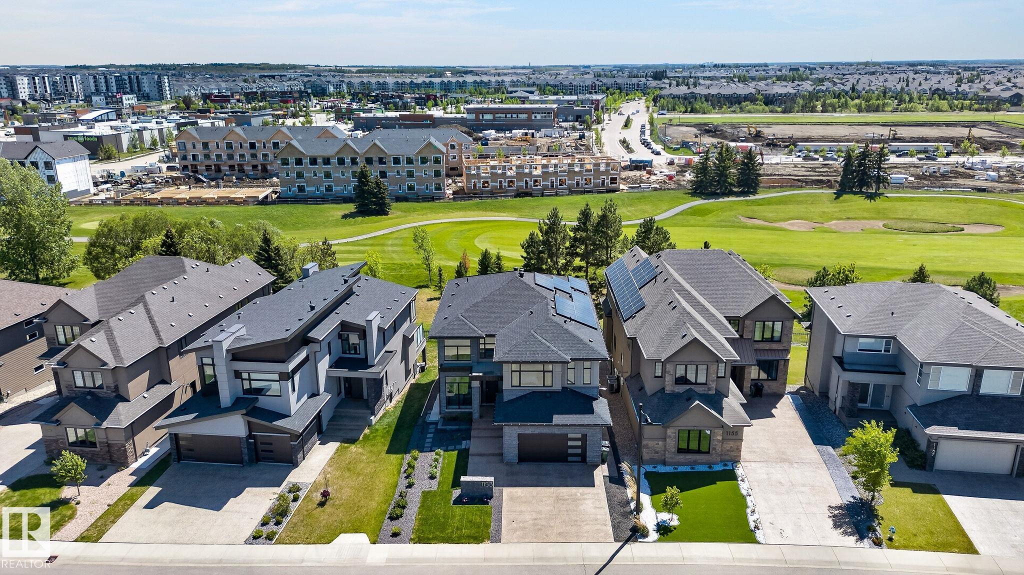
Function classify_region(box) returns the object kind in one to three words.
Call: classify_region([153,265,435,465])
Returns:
house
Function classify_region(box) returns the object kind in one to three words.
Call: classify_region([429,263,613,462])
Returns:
house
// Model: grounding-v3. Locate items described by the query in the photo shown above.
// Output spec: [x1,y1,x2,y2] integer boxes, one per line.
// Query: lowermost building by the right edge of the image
[804,279,1024,471]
